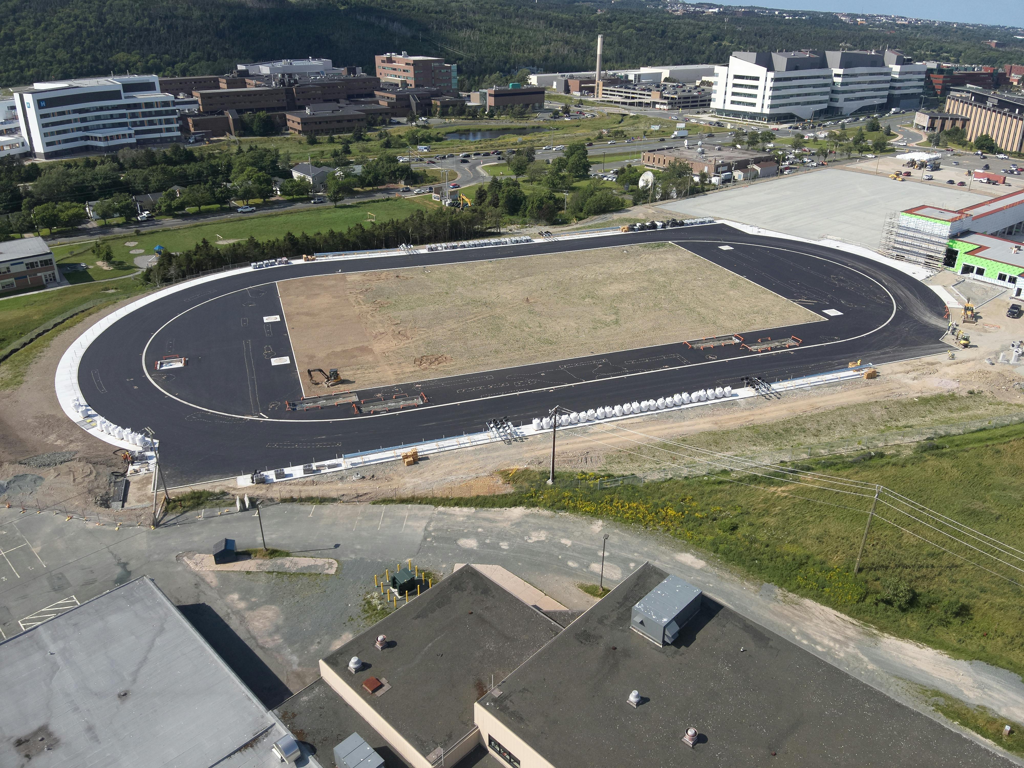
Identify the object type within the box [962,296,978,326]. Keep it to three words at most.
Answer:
work vehicle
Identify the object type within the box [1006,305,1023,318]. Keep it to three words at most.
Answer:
vehicle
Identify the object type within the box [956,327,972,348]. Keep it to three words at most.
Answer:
work vehicle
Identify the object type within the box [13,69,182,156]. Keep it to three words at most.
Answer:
building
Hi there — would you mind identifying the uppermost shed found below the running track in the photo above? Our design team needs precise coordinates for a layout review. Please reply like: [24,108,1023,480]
[212,530,237,564]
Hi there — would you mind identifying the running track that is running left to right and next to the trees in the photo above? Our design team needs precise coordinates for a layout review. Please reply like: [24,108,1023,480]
[75,223,957,489]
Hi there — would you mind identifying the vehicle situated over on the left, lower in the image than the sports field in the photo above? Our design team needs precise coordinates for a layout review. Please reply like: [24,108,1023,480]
[303,364,344,387]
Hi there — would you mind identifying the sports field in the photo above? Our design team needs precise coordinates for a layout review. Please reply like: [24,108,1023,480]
[51,187,485,281]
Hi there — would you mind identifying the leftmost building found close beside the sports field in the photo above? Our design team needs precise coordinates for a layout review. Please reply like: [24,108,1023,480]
[0,235,56,295]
